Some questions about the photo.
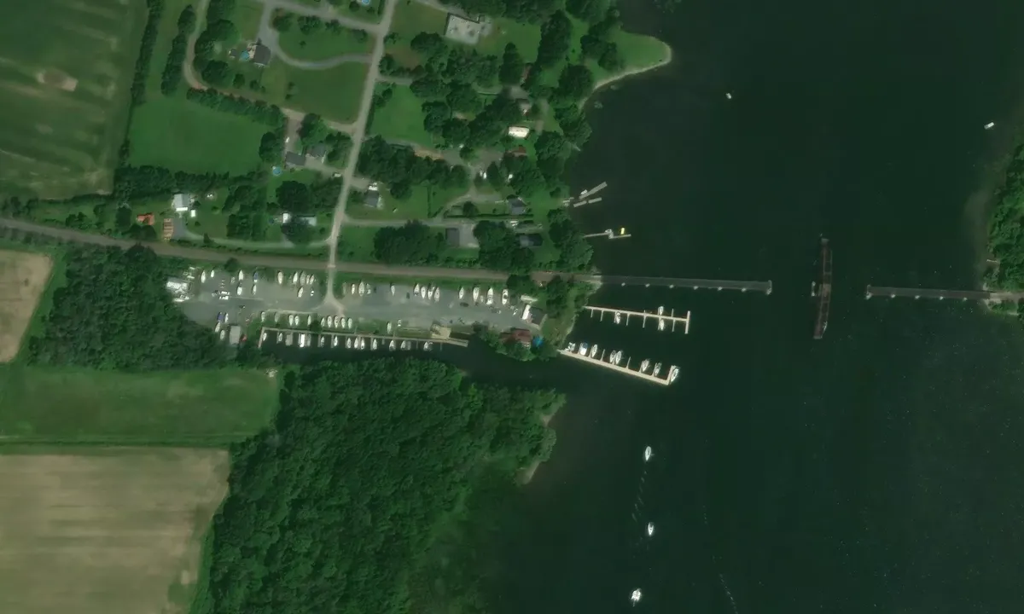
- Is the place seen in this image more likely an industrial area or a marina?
marina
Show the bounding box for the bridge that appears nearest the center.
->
[590,274,773,293]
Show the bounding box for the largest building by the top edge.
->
[445,14,479,45]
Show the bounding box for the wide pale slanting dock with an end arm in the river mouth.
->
[558,343,674,386]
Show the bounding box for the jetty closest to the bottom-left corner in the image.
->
[258,327,468,351]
